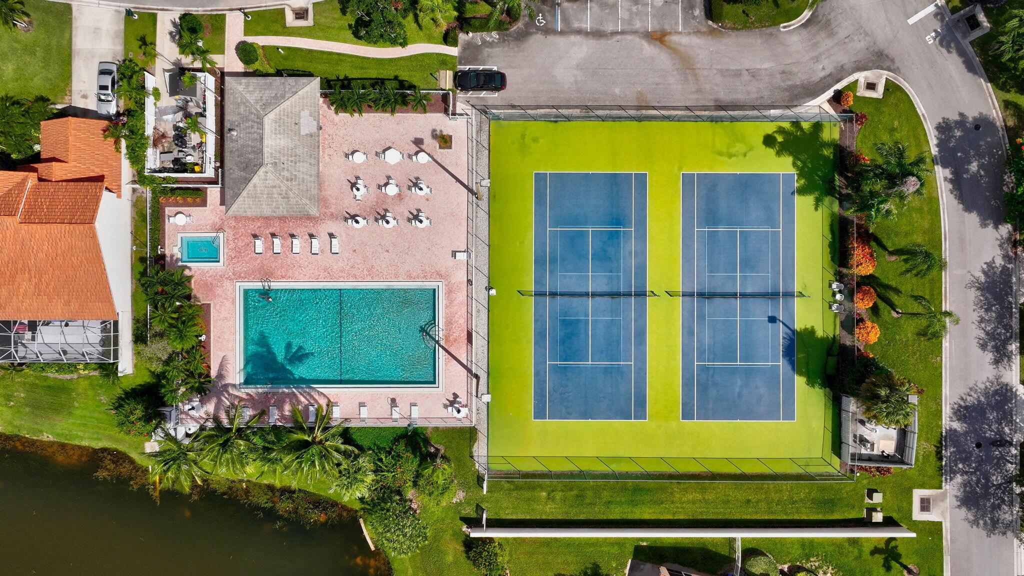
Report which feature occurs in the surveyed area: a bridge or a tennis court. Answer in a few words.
tennis court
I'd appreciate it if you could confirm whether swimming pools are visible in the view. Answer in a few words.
Yes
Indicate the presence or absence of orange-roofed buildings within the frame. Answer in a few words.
Yes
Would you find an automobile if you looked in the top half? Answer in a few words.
Yes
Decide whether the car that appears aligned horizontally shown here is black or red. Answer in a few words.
black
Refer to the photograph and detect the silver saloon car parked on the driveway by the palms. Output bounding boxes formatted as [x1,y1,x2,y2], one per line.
[91,62,118,117]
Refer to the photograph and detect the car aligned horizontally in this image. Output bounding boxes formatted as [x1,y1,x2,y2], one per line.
[455,67,507,92]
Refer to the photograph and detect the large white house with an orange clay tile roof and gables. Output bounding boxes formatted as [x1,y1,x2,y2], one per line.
[0,116,133,376]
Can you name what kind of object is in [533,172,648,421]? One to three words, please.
tennis court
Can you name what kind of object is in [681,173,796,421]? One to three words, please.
tennis court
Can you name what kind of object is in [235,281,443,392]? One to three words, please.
swimming pool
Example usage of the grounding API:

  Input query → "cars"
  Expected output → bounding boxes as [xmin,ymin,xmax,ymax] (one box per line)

[91,62,118,117]
[455,67,507,92]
